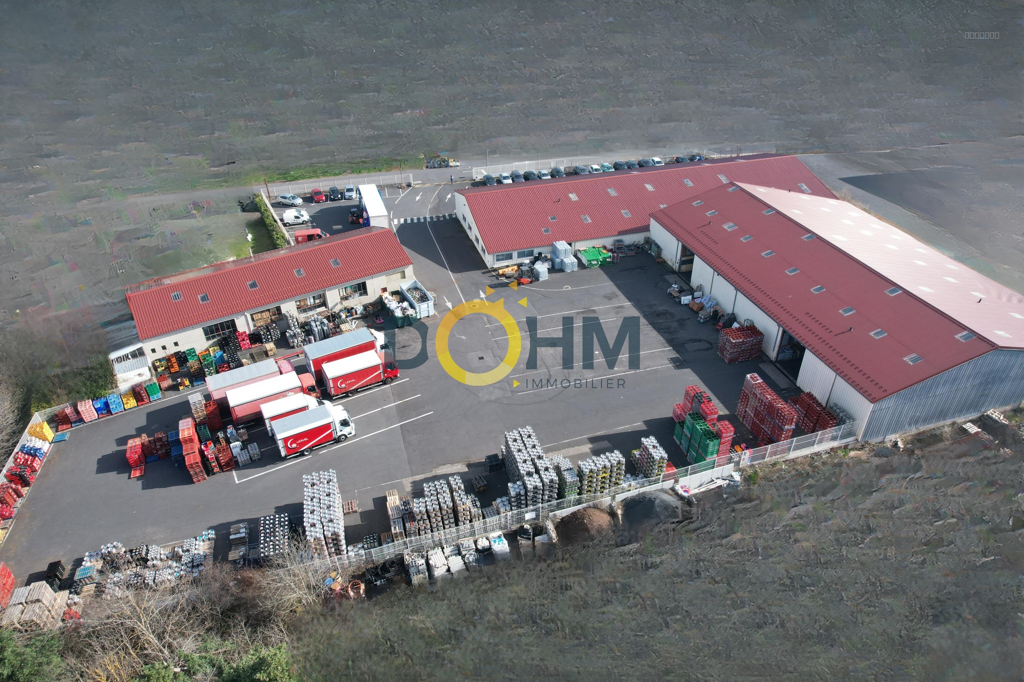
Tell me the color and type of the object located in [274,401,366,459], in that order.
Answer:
white truck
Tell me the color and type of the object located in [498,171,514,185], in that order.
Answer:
white car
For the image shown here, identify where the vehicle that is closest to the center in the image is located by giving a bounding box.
[516,266,542,288]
